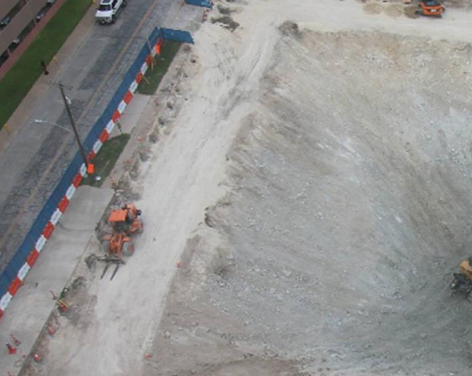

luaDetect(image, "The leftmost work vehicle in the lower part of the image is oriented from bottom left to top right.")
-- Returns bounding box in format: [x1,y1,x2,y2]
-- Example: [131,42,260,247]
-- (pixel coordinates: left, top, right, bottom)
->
[93,207,146,277]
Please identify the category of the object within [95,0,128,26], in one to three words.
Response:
truck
